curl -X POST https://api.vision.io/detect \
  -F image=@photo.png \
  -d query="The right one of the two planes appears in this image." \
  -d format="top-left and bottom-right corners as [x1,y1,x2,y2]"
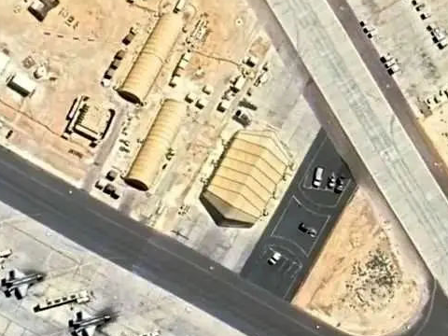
[67,312,111,336]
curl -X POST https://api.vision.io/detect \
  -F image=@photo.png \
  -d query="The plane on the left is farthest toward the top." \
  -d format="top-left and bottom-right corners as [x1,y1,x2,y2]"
[0,270,43,299]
